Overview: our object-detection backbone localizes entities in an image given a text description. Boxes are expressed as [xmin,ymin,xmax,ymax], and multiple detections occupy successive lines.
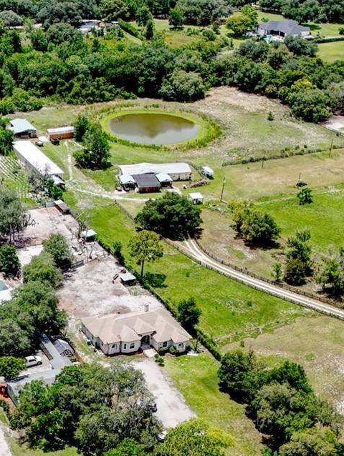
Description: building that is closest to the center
[111,164,193,198]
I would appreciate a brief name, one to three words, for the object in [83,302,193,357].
house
